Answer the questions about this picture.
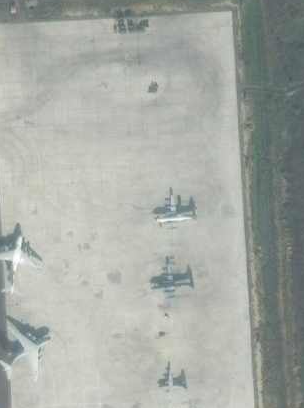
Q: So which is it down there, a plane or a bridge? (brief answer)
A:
plane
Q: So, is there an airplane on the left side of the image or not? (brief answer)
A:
Yes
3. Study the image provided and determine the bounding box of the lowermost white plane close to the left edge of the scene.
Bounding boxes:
[0,325,49,379]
